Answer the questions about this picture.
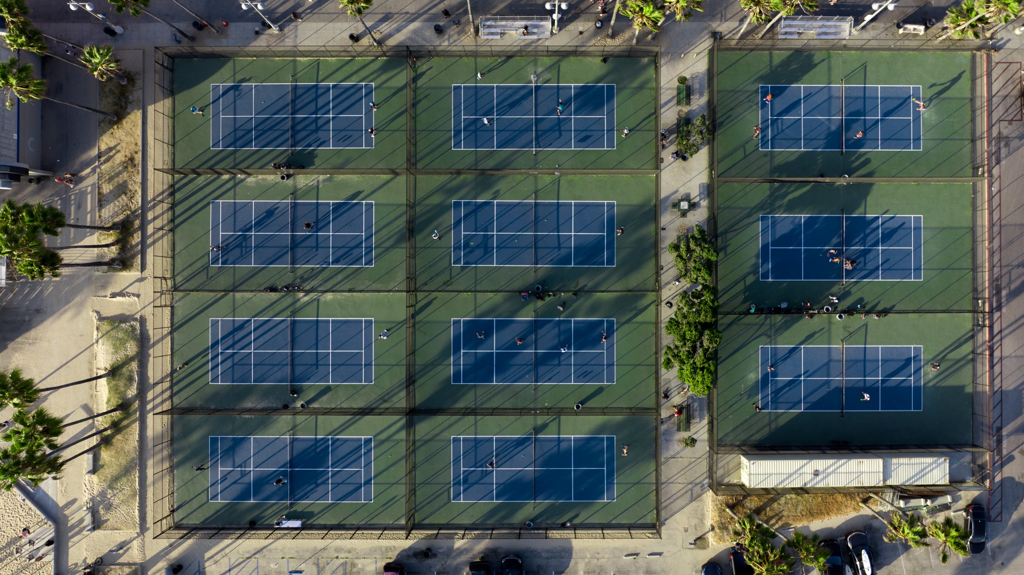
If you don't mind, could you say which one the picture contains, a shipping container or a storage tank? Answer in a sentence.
It is a shipping container that can be seen here.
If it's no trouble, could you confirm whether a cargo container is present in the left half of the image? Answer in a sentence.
No, I see no cargo container in the left half of the image.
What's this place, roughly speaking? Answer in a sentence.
The picture captures a sports ground.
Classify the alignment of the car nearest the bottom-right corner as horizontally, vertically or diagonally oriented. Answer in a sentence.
The car nearest the bottom-right corner runs vertically in the image.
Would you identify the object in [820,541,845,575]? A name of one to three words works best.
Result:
car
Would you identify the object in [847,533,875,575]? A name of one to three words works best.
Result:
car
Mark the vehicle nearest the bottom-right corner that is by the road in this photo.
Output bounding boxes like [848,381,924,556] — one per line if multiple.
[962,504,988,555]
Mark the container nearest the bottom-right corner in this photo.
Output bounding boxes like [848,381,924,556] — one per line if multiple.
[873,454,953,488]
